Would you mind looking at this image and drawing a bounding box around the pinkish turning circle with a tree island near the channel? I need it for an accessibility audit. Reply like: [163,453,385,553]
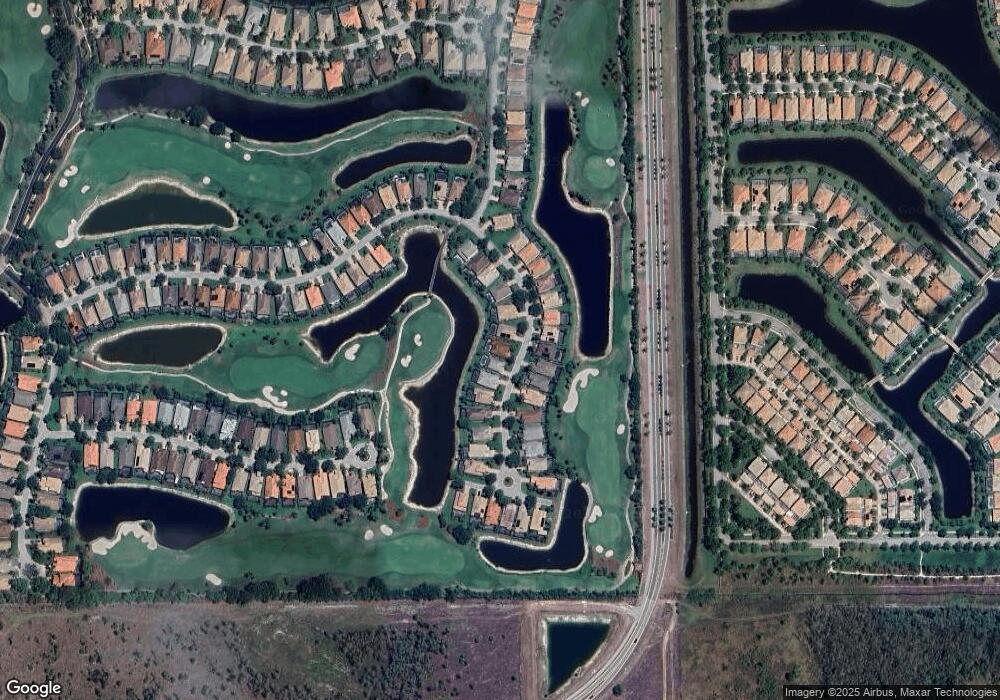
[972,169,1000,203]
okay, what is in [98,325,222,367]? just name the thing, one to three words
pond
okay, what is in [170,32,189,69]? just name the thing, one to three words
house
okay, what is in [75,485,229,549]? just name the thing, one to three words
pond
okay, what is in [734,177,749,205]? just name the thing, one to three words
house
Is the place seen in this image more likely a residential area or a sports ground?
residential area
